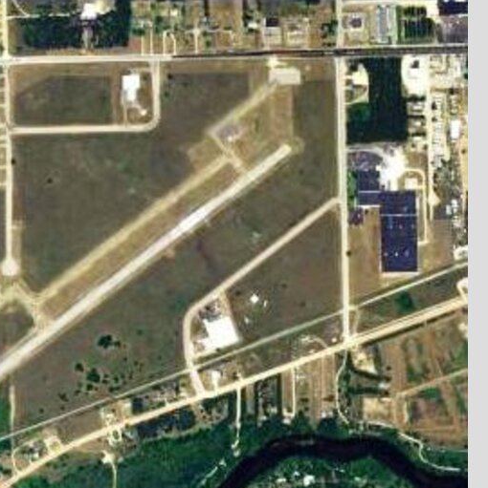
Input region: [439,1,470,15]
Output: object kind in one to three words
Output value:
building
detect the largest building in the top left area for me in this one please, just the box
[122,74,140,100]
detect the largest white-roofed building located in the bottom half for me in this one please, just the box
[196,316,240,351]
